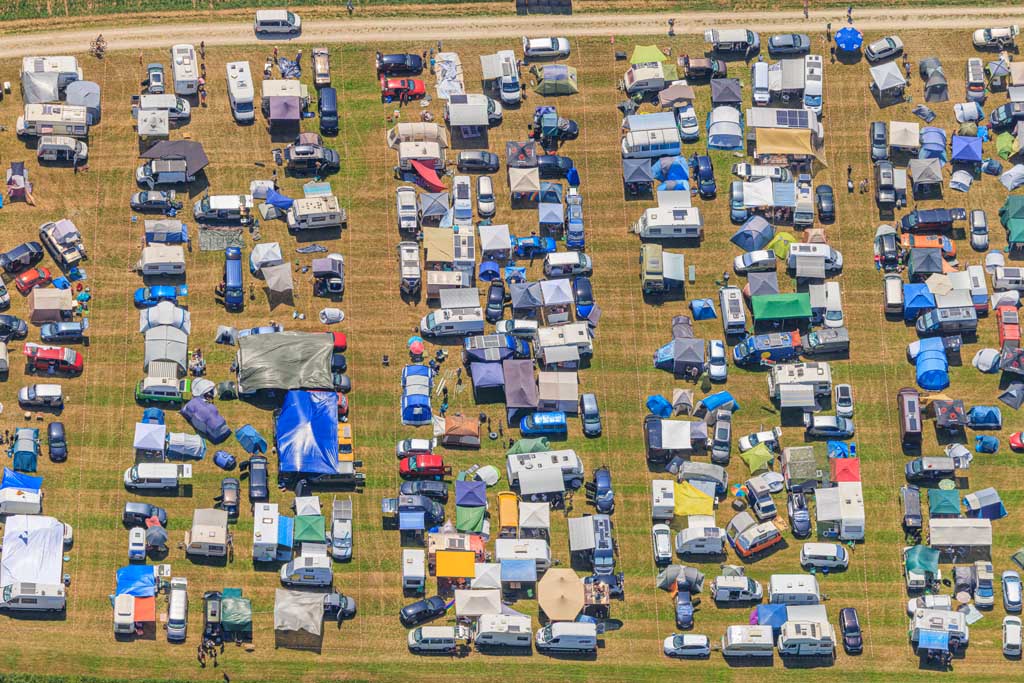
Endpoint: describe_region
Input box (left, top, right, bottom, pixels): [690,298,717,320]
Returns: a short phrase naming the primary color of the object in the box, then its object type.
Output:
blue tent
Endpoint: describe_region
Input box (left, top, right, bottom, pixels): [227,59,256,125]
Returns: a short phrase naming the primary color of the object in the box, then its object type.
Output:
white camper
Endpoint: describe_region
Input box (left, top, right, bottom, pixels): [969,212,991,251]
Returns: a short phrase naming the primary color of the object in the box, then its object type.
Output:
white car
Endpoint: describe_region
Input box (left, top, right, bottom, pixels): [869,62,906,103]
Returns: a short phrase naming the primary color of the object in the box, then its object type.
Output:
white gazebo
